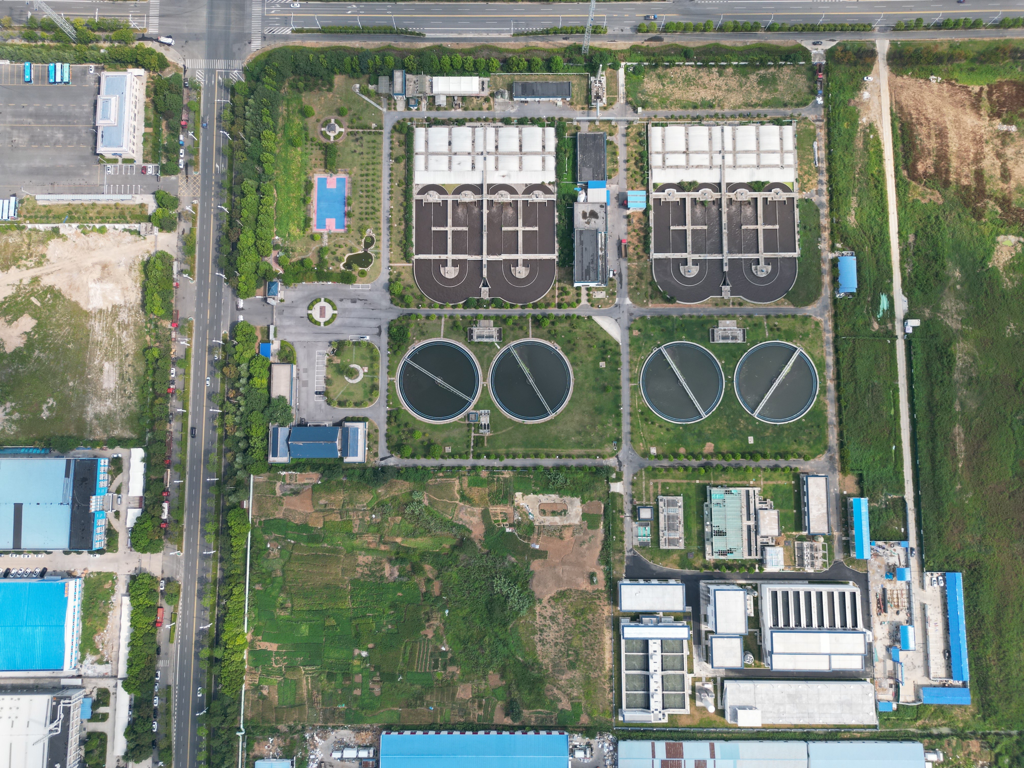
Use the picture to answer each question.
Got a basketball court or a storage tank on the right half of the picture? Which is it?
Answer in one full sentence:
It is a storage tank that can be seen on the right half of the picture.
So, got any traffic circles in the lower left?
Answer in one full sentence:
No, I see no traffic circle in the lower left.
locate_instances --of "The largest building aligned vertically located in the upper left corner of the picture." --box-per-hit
[97,72,138,159]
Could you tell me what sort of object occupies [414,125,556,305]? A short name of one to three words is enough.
storage tank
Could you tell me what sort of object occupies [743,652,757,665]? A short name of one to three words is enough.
cooling tower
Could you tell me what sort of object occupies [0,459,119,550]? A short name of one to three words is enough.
building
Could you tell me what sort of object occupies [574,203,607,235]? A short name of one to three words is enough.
house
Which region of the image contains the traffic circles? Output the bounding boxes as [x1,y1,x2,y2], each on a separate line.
[308,297,337,327]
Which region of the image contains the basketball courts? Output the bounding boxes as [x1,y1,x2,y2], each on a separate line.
[313,174,349,232]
